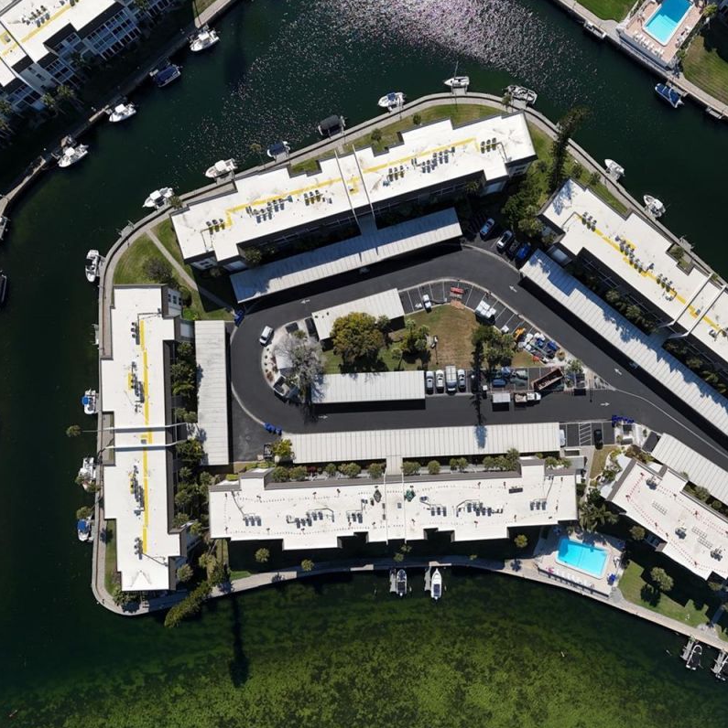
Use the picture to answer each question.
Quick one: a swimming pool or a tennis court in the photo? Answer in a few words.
swimming pool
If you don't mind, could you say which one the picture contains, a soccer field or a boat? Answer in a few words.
boat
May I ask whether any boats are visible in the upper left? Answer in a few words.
Yes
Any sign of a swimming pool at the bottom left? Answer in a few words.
No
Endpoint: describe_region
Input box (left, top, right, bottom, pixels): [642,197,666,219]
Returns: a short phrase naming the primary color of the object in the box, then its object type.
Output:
white boat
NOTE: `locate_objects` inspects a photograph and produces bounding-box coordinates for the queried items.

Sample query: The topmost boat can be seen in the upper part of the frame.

[192,31,221,50]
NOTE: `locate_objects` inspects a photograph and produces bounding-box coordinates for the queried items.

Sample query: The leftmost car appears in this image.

[260,327,274,345]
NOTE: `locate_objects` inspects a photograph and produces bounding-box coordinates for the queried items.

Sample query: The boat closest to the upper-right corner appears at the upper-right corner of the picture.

[657,85,682,108]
